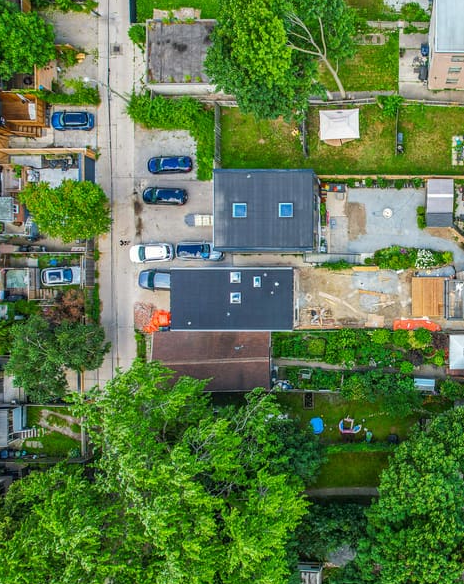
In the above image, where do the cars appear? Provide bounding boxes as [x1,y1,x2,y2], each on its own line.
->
[41,264,77,287]
[52,109,96,133]
[177,240,226,262]
[130,240,177,263]
[138,269,171,291]
[148,153,195,176]
[144,184,191,207]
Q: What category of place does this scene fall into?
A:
residential area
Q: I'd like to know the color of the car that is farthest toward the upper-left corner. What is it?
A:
blue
